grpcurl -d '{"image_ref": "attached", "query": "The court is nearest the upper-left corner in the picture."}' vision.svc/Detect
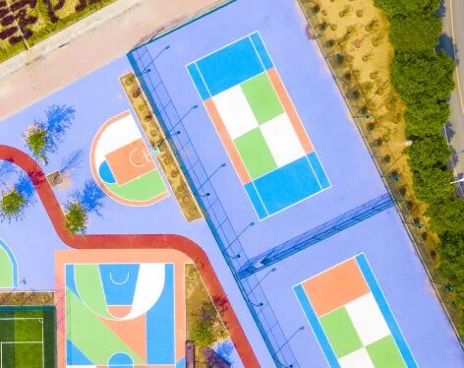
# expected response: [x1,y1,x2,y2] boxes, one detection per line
[90,108,170,205]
